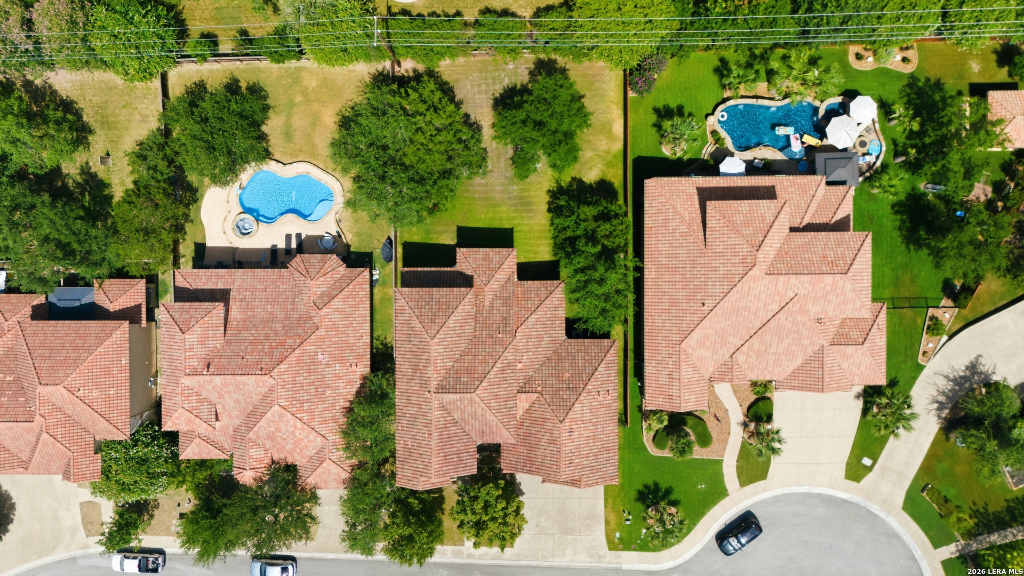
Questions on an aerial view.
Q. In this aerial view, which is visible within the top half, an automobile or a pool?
pool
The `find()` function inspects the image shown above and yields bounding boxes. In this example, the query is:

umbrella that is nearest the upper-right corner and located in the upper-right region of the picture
[849,96,877,123]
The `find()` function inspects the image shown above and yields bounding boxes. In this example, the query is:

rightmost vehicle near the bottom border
[717,518,763,556]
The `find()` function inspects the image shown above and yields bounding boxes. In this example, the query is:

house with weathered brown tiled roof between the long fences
[394,247,619,490]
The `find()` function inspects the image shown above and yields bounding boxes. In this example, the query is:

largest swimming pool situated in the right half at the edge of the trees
[704,96,828,163]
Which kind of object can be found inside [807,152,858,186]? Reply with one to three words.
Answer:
gazebo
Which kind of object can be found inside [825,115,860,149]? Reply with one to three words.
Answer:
umbrella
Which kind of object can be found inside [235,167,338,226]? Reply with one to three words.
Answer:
swimming pool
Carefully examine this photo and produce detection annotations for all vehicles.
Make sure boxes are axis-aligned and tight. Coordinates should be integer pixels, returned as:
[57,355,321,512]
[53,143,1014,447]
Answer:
[111,552,166,576]
[250,558,296,576]
[717,518,763,556]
